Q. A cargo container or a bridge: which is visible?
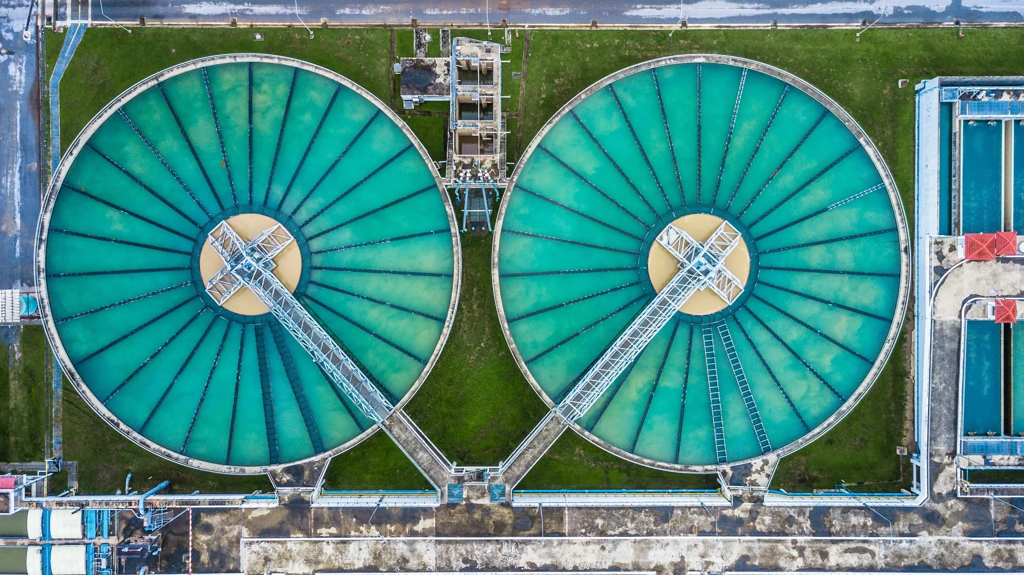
bridge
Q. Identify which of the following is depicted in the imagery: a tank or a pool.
tank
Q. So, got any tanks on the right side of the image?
Yes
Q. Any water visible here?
Yes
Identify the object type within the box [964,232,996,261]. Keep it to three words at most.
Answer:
shed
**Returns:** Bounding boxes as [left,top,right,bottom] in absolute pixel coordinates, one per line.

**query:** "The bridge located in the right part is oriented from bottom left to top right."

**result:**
[554,219,745,423]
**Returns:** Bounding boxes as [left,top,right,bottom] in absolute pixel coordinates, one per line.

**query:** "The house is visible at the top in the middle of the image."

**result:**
[401,57,449,99]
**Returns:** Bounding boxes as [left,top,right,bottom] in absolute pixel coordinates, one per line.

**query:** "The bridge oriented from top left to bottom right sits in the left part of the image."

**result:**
[205,219,396,423]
